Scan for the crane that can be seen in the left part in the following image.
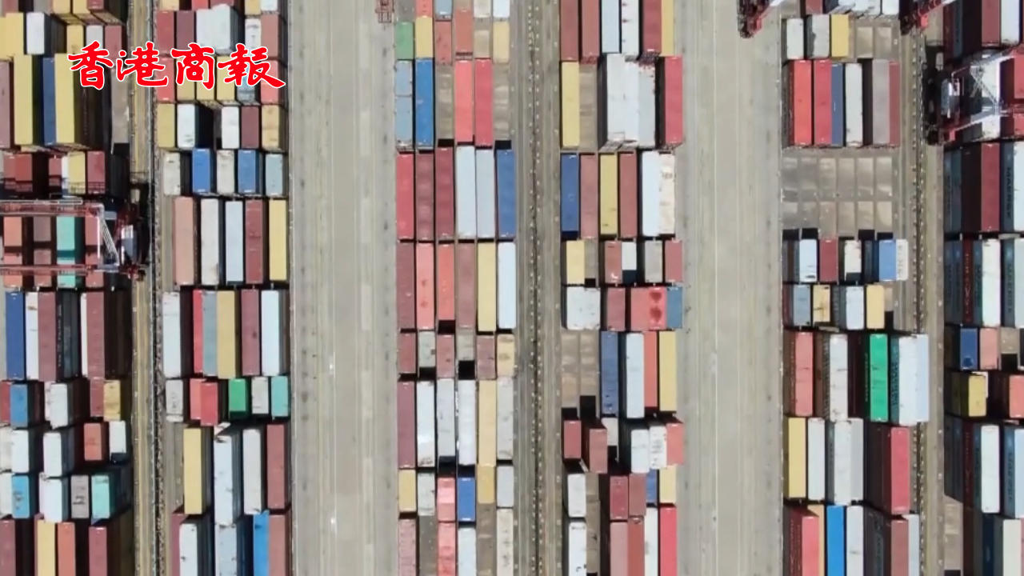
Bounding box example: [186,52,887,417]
[0,184,149,284]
